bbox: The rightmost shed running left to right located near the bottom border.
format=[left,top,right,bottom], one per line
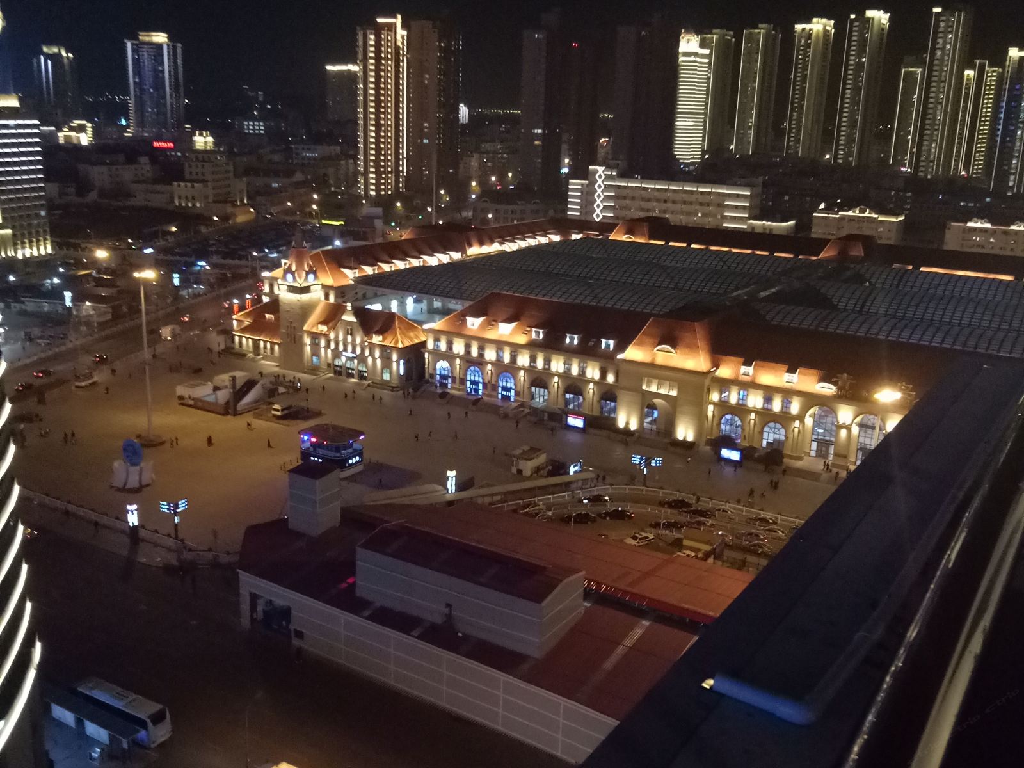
[240,503,751,768]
